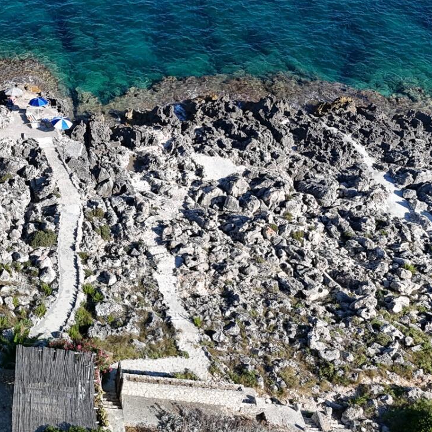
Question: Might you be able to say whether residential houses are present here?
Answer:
No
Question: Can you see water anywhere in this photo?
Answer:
Yes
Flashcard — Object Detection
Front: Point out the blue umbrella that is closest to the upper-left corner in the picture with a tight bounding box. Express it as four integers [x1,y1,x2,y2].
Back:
[28,97,49,122]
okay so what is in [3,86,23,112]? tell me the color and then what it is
white umbrella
